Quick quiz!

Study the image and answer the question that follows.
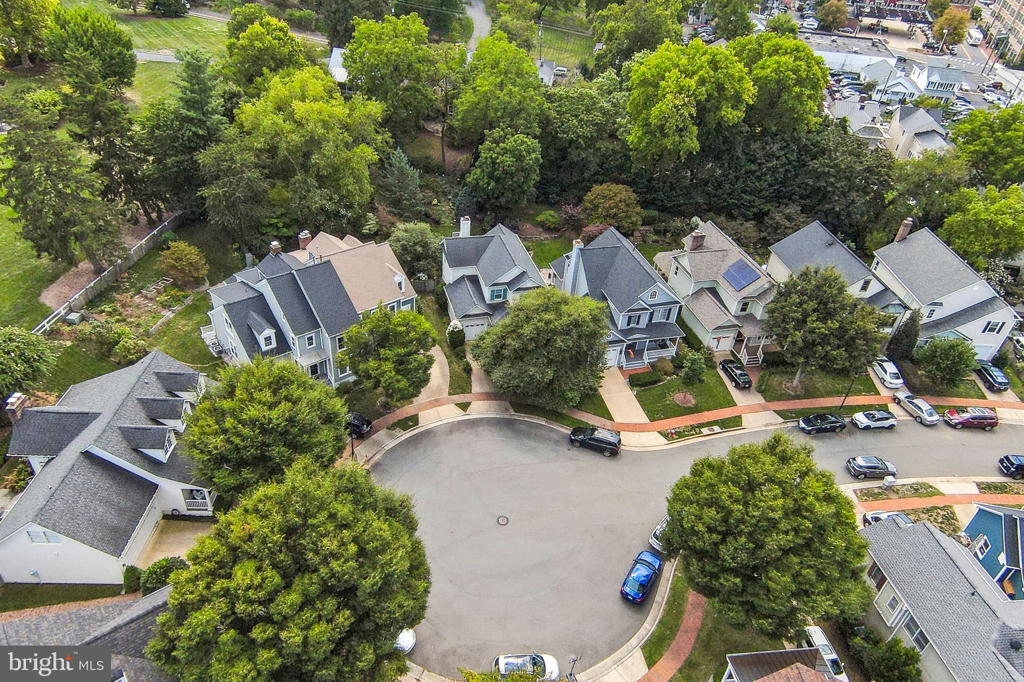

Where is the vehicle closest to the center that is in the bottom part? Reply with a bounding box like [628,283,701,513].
[568,425,625,458]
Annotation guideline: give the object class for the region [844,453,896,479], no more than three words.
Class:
car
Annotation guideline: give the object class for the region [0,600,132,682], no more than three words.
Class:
house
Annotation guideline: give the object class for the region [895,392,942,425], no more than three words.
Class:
car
